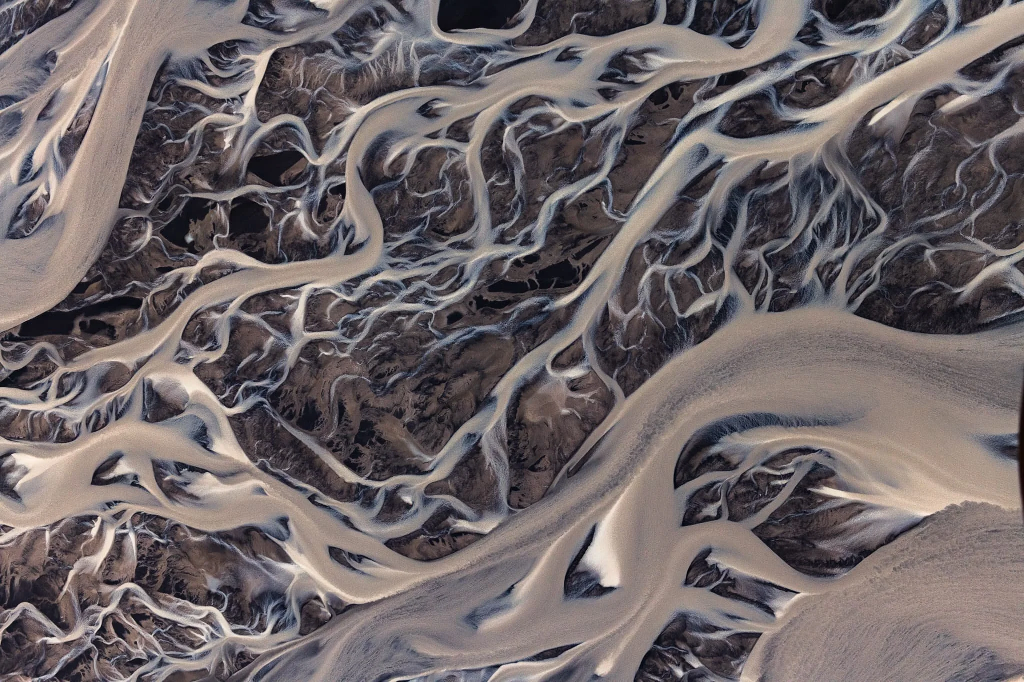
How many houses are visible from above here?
0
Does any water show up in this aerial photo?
Yes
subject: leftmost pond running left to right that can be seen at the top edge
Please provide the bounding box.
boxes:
[437,0,521,32]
